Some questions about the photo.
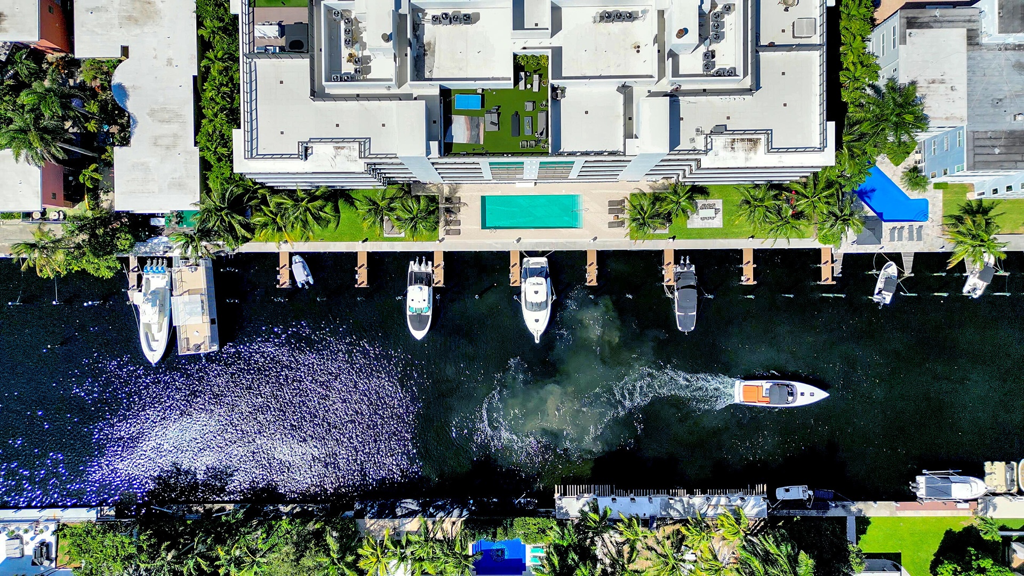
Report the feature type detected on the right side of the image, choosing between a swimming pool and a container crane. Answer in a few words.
swimming pool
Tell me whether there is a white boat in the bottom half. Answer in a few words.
Yes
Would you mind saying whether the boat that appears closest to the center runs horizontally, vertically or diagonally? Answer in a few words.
vertically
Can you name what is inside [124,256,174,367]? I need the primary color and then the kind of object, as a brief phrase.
white boat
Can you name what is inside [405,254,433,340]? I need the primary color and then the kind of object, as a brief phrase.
white boat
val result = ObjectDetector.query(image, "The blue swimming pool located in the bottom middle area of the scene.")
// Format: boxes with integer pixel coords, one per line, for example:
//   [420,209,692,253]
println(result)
[469,536,528,576]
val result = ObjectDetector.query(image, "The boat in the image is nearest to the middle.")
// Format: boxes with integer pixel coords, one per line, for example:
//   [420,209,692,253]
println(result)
[521,257,553,343]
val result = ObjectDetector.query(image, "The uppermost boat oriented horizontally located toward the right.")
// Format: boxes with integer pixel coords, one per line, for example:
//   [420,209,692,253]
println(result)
[732,380,829,406]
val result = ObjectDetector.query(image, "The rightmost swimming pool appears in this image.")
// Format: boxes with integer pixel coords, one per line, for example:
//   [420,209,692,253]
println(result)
[851,163,935,225]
